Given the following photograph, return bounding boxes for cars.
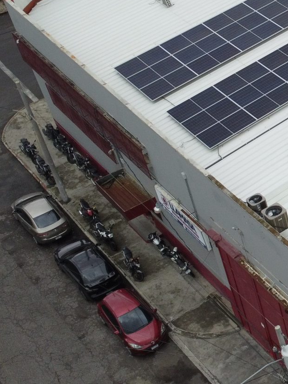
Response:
[94,286,177,363]
[52,236,132,305]
[3,188,78,250]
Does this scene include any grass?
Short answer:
No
